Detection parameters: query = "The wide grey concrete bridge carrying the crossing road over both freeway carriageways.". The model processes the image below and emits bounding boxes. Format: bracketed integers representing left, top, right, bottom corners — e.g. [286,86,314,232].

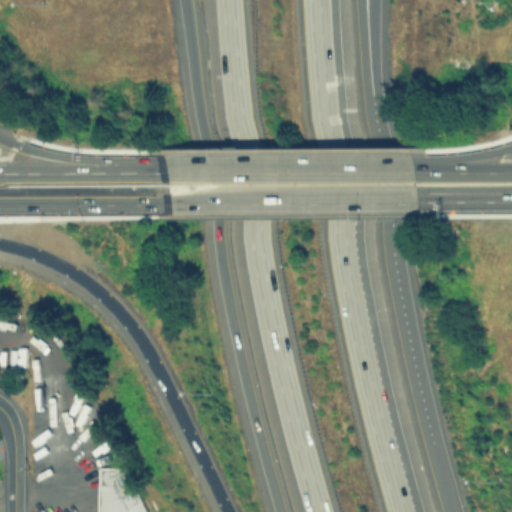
[164,149,418,219]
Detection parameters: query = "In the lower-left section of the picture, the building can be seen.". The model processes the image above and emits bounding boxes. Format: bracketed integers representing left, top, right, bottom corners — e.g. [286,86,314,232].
[98,468,152,512]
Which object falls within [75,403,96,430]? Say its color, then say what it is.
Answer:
white camper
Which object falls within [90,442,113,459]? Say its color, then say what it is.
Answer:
white camper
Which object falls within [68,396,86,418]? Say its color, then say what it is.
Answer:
white vehicle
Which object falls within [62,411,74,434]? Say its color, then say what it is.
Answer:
white vehicle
